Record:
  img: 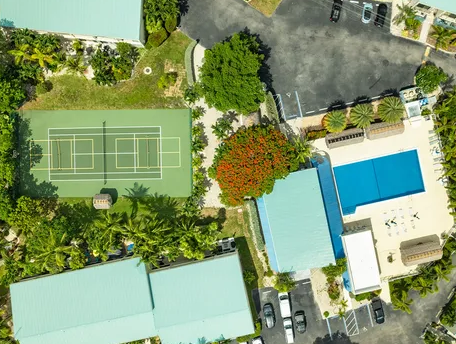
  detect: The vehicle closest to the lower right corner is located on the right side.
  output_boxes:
[371,297,386,325]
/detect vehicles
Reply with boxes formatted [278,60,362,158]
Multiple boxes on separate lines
[362,3,373,24]
[371,297,386,325]
[279,293,291,320]
[263,303,275,329]
[295,310,306,333]
[329,0,343,23]
[284,318,297,344]
[374,2,389,28]
[253,336,263,344]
